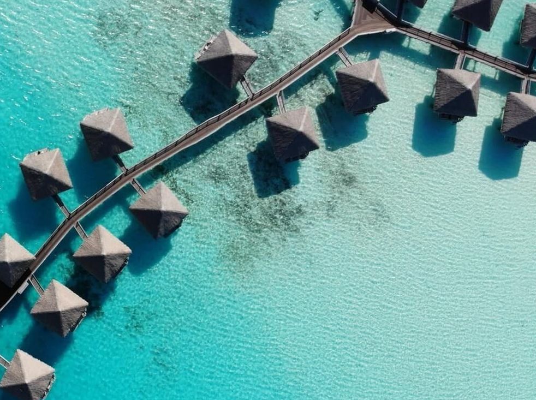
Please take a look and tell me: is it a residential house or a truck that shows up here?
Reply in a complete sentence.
The image shows a residential house.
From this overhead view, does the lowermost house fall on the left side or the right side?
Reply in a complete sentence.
The lowermost house sits on the left side.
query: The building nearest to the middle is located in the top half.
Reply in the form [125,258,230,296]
[266,106,320,163]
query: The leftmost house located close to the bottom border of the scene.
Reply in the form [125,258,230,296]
[0,349,56,400]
